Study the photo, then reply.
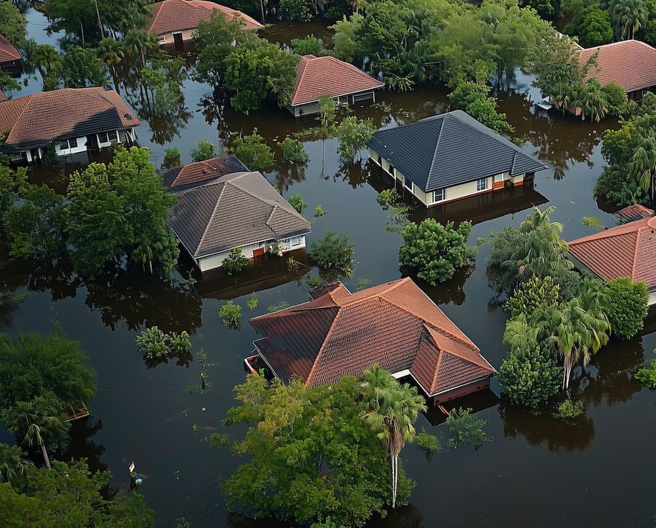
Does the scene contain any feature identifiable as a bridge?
No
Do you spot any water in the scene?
Yes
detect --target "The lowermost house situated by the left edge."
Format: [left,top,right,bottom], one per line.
[0,86,141,163]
